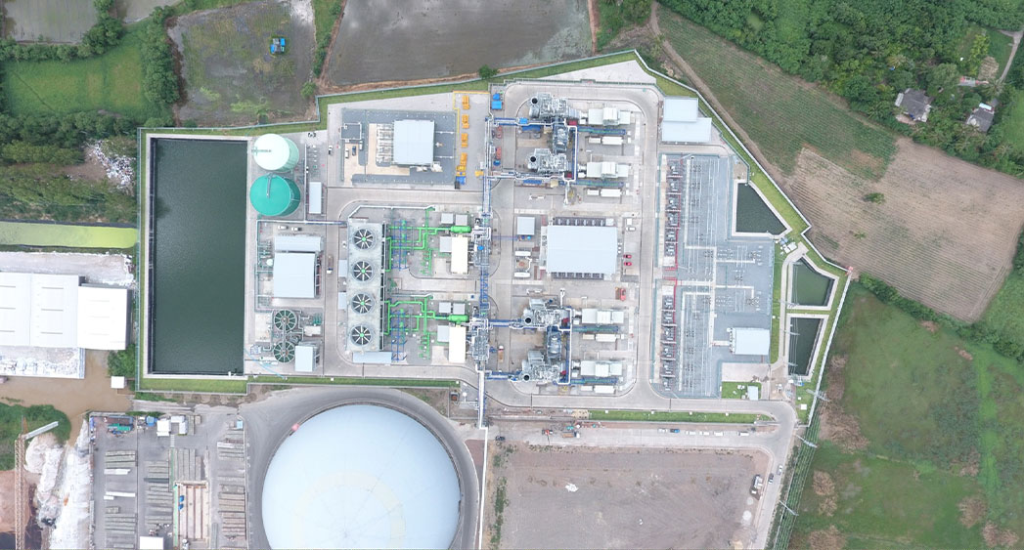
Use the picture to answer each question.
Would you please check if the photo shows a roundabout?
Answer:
No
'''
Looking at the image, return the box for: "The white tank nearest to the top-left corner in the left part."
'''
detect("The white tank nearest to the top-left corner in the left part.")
[251,133,298,174]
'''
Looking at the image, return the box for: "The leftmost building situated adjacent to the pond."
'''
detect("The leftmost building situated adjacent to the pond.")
[0,271,32,347]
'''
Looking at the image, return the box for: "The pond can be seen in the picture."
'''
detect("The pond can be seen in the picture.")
[0,222,136,249]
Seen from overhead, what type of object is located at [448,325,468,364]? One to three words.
house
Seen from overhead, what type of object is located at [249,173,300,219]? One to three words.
storage tank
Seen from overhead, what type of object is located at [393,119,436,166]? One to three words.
building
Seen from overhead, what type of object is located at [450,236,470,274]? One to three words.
house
